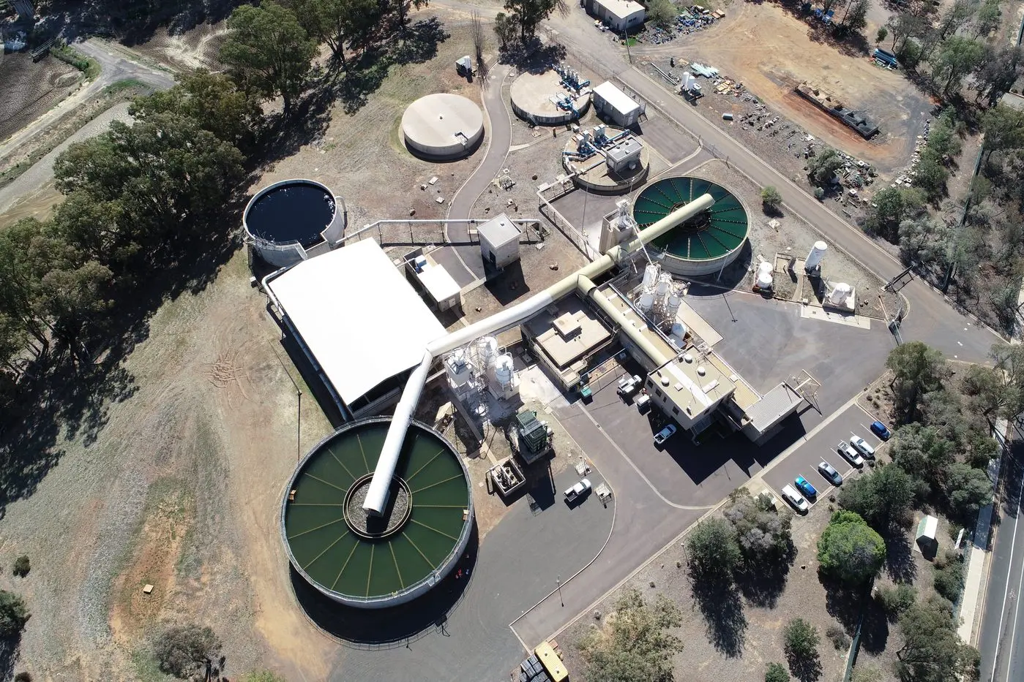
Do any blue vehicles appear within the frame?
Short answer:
Yes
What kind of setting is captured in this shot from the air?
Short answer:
industrial area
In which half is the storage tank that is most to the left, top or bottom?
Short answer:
top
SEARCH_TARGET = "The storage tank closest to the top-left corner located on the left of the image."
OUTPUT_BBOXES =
[243,179,351,293]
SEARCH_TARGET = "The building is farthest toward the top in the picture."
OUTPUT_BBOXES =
[574,0,645,34]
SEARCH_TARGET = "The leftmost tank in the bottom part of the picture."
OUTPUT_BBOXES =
[275,410,476,609]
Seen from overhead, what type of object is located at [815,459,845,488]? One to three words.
car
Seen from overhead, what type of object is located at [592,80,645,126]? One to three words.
building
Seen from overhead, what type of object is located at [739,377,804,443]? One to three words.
building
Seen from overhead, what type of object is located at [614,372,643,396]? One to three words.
truck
